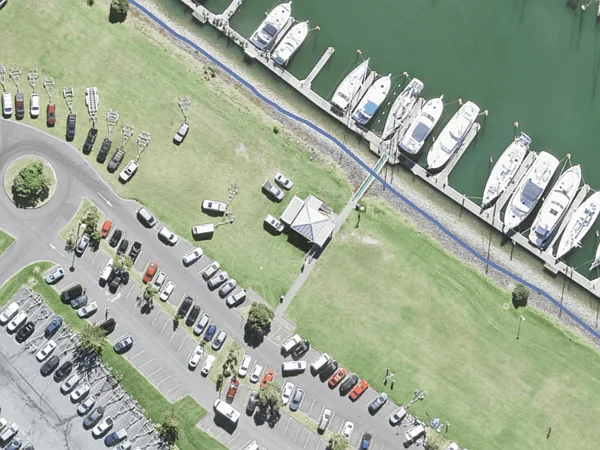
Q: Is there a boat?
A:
Yes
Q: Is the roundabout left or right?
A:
left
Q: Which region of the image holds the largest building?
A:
center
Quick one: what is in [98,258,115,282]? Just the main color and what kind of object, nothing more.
white vehicle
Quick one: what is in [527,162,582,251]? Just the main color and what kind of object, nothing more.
white boat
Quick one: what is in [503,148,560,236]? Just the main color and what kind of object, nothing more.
white boat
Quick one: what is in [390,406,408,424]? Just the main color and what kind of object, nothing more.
white car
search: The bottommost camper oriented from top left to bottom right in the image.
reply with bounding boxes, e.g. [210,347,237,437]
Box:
[212,399,241,422]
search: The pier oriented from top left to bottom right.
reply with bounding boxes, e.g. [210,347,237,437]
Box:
[173,0,600,299]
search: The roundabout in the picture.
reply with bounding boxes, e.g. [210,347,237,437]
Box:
[3,155,57,209]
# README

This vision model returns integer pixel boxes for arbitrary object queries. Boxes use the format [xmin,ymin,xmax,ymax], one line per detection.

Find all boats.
[248,0,292,52]
[380,77,425,142]
[350,71,392,126]
[399,93,445,157]
[330,57,371,112]
[527,162,582,251]
[589,238,600,271]
[480,137,530,211]
[555,182,600,260]
[271,19,311,67]
[503,148,560,236]
[427,97,483,172]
